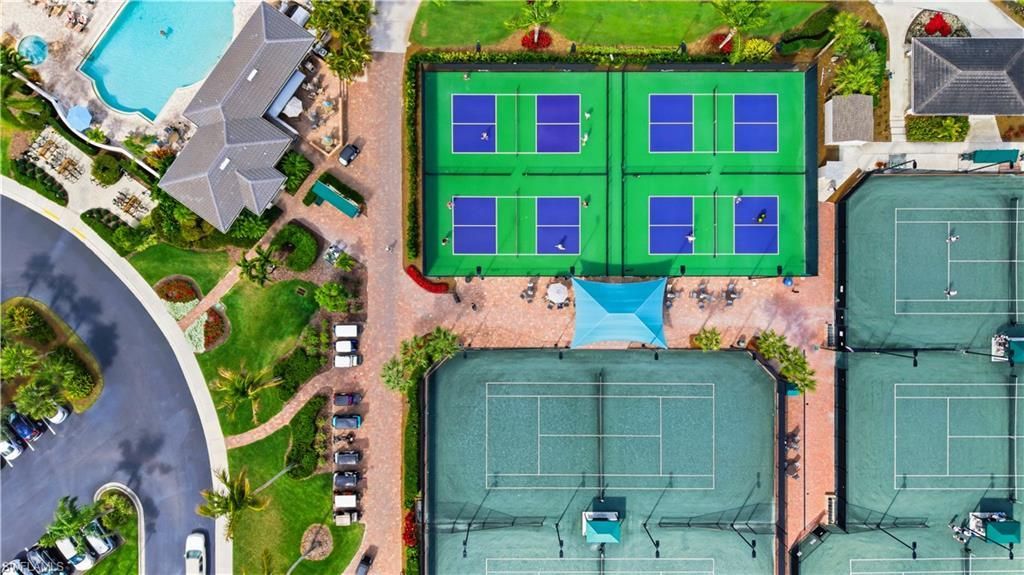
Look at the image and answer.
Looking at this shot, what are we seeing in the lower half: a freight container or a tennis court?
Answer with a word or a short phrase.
tennis court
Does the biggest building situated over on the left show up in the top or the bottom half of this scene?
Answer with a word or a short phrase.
top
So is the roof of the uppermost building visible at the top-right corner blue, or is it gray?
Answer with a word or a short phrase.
gray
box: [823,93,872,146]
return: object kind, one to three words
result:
shed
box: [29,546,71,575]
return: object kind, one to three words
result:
car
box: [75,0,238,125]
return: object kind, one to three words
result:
swimming pool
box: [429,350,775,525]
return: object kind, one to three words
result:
tennis court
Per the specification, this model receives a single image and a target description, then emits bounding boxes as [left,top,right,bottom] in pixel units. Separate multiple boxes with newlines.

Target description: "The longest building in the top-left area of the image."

[158,1,315,234]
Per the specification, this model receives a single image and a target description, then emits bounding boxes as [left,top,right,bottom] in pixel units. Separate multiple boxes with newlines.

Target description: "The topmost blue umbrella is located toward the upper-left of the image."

[68,106,97,130]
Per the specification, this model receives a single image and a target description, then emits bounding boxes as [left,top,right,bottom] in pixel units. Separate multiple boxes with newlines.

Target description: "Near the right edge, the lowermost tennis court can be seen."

[792,525,1024,575]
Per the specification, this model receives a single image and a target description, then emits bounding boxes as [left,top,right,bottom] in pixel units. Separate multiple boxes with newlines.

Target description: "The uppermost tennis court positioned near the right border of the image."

[838,175,1024,349]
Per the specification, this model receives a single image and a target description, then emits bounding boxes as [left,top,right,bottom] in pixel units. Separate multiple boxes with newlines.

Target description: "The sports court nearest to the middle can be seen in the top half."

[425,174,615,275]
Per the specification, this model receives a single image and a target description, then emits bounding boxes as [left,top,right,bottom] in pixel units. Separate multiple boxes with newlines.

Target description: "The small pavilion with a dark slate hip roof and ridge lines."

[895,37,1024,117]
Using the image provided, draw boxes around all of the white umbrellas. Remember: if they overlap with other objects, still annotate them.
[547,282,569,304]
[284,97,304,118]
